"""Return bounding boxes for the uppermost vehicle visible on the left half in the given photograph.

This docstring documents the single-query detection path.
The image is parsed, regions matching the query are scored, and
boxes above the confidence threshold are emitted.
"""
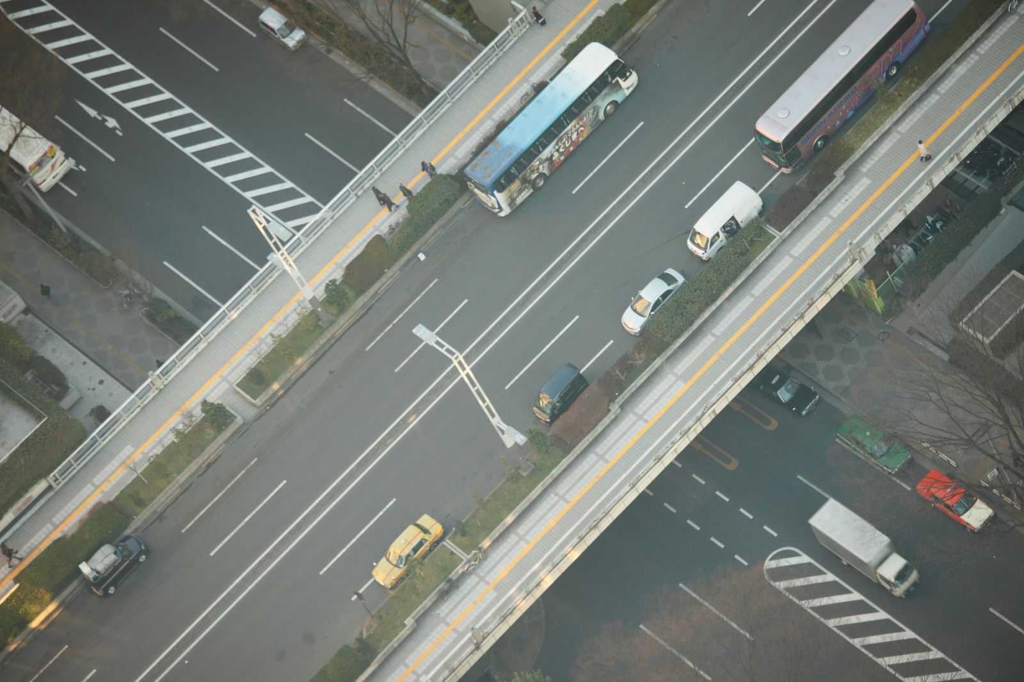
[256,8,309,54]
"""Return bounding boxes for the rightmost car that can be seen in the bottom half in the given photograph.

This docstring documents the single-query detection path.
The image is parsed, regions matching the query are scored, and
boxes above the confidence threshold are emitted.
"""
[915,469,994,534]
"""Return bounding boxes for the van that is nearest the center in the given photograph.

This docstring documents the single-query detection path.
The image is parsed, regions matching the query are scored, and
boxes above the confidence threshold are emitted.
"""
[527,357,593,425]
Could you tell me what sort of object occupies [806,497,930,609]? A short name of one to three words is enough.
truck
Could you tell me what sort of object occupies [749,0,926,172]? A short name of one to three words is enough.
bus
